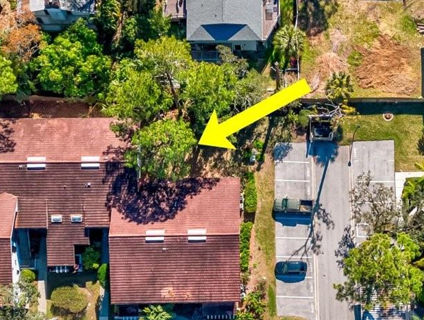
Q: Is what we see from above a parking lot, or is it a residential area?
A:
residential area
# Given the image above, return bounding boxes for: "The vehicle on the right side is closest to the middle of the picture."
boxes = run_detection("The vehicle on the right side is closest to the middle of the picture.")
[273,197,313,213]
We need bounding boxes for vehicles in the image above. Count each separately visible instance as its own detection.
[274,261,307,277]
[273,197,313,213]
